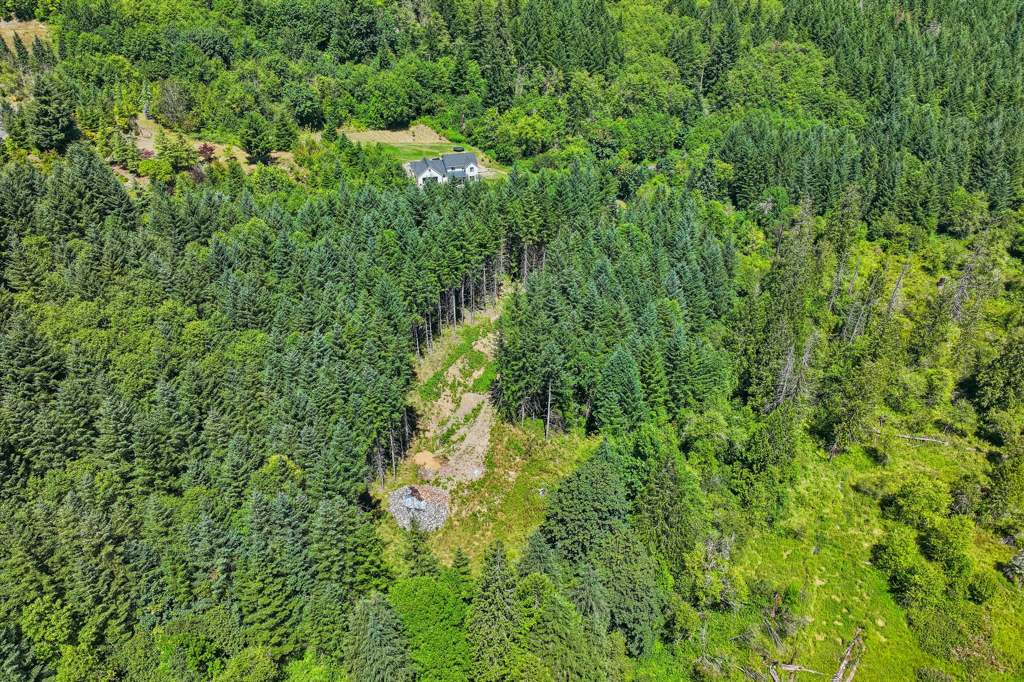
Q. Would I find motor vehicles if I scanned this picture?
No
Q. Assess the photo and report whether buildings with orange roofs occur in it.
No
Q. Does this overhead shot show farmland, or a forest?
forest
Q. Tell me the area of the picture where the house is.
top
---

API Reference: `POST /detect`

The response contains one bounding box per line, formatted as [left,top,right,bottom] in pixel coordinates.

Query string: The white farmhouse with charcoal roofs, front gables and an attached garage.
[409,153,480,185]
